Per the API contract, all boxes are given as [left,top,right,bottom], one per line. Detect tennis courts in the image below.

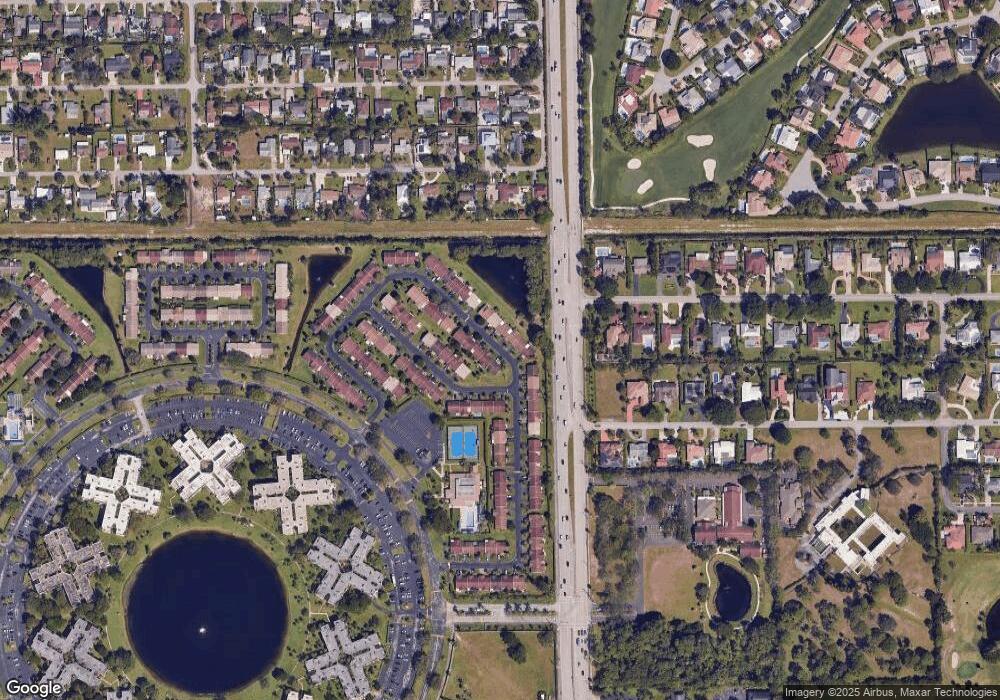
[463,426,479,459]
[448,426,463,459]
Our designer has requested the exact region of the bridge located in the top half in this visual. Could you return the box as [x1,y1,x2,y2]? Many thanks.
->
[551,230,583,249]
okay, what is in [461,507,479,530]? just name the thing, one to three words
swimming pool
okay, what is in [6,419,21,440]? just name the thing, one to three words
swimming pool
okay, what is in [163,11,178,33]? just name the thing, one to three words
house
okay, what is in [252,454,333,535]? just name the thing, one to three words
building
